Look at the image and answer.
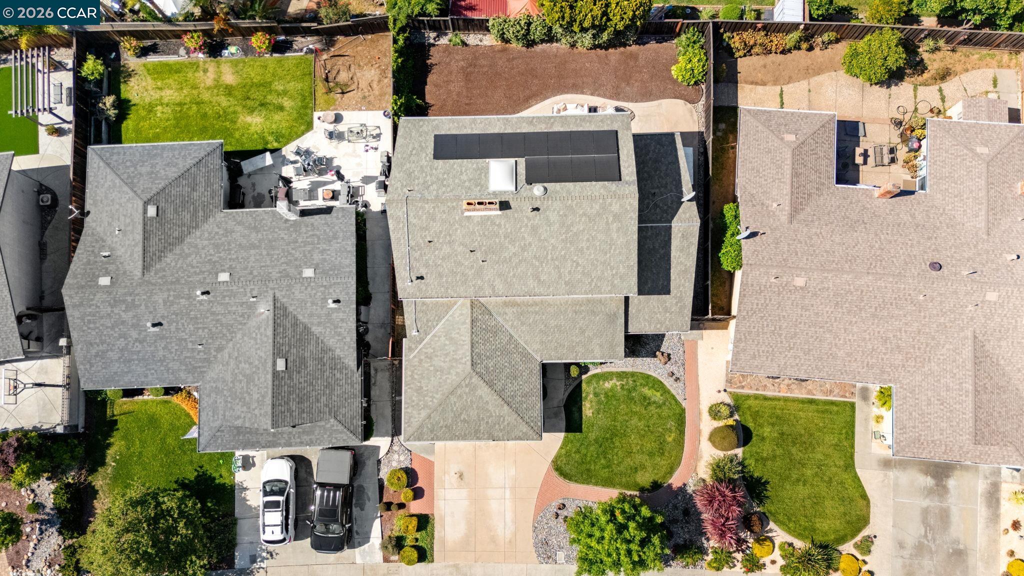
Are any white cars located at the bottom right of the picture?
No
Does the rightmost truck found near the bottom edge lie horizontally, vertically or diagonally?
vertically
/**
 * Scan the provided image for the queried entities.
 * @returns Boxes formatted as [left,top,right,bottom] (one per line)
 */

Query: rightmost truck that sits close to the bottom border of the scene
[308,447,357,555]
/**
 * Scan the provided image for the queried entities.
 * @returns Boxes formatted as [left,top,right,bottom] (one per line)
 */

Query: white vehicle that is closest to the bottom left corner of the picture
[256,457,299,547]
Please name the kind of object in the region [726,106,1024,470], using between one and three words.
house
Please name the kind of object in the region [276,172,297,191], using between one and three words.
umbrella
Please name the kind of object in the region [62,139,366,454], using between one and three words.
house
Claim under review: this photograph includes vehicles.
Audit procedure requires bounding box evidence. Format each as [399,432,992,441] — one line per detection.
[308,447,357,555]
[256,457,299,547]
